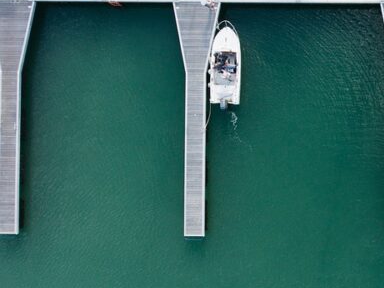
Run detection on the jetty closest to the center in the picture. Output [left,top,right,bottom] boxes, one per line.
[173,3,219,238]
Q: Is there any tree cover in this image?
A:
No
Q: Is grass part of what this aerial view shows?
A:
No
